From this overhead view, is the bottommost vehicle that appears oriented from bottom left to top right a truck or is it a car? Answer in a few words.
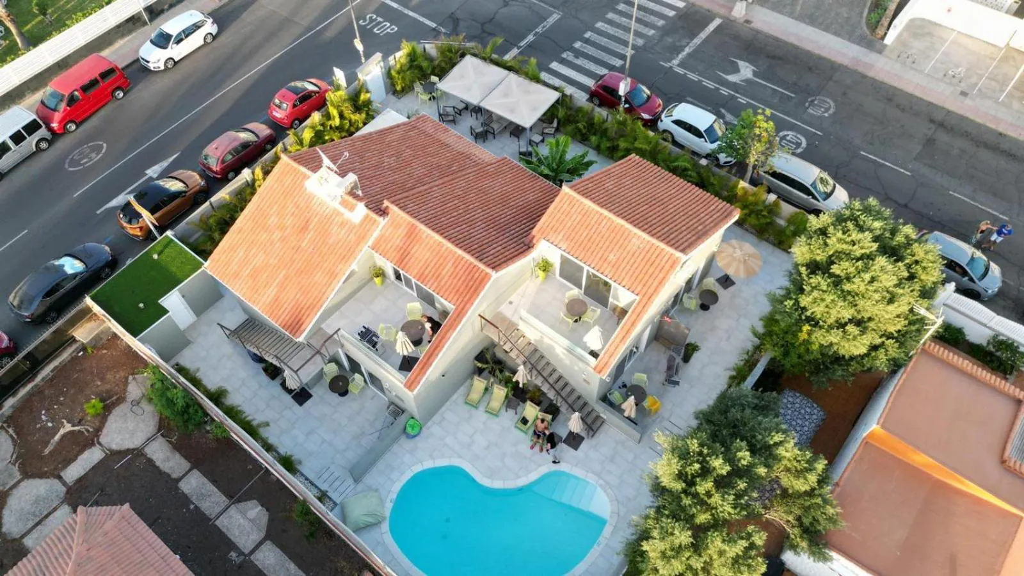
car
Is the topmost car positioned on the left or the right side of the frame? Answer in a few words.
left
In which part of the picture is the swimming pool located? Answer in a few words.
bottom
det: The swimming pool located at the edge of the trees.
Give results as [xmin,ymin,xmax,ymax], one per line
[380,457,619,576]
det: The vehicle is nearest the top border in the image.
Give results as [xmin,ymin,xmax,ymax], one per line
[134,10,218,74]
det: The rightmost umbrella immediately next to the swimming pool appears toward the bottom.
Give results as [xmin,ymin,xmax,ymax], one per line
[561,419,587,454]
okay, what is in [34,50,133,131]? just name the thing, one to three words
van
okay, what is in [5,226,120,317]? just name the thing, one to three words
car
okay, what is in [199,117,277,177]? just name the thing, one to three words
car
